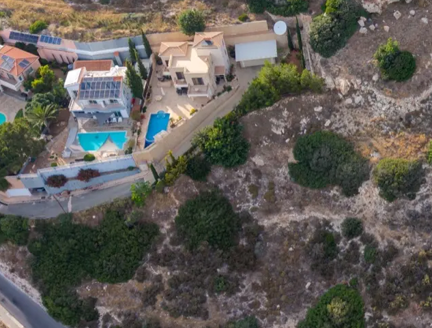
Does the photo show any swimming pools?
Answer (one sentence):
Yes, a swimming pool can be made out from above.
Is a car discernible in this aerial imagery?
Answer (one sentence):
No, I can't see a single car in this photo.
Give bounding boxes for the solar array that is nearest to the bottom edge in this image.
[79,74,124,97]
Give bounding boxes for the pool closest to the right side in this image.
[143,112,172,149]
